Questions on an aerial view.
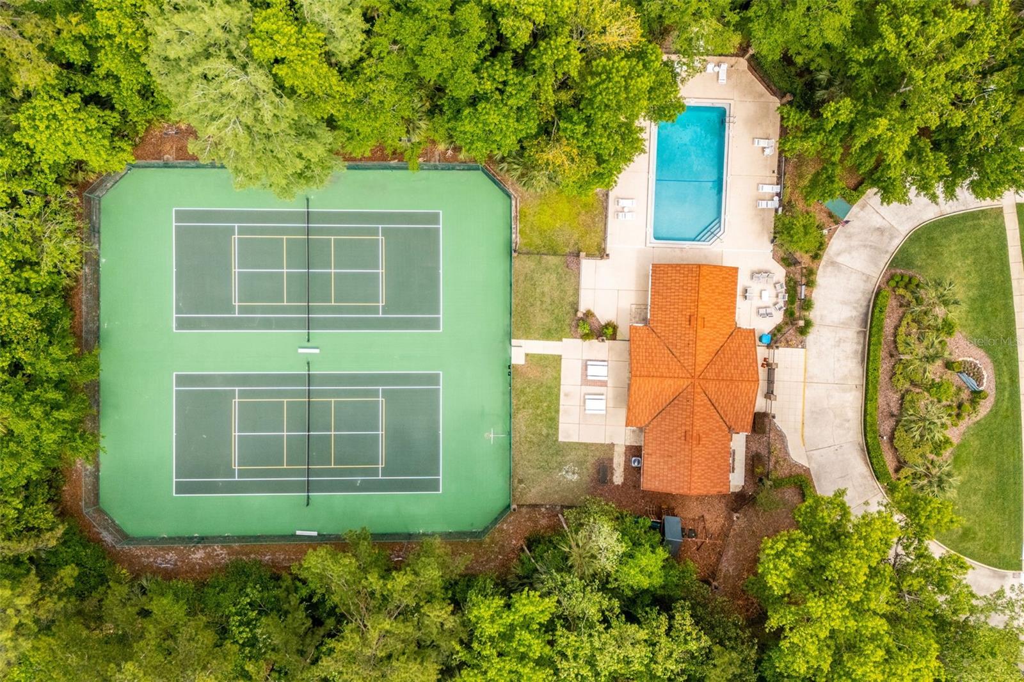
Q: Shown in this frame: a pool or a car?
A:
pool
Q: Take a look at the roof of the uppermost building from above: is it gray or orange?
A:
orange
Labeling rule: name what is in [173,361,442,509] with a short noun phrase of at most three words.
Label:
tennis court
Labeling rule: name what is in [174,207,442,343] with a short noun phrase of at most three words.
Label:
tennis court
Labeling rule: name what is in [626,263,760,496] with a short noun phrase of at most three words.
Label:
building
